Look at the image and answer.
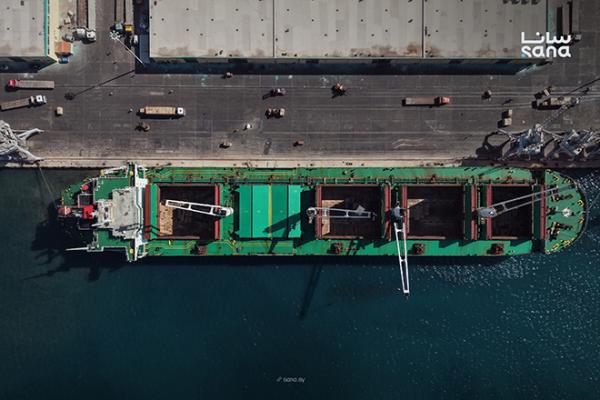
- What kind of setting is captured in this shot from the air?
port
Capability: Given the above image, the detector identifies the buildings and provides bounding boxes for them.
[0,0,57,62]
[149,0,552,64]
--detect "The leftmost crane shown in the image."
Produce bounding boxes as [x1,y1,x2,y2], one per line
[0,130,46,158]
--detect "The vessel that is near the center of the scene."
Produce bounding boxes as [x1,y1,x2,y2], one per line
[55,163,591,295]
